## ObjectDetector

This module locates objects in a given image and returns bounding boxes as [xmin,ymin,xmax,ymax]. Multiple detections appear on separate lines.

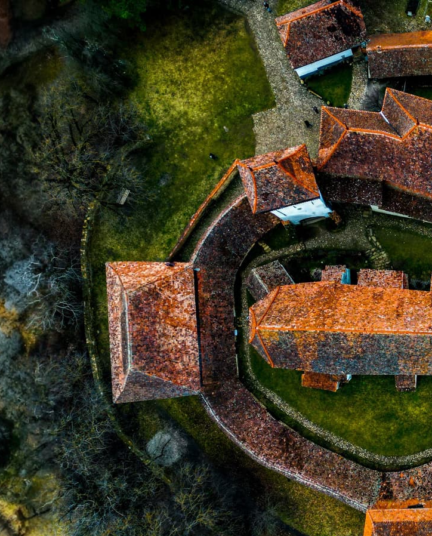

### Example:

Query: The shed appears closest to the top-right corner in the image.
[367,31,432,85]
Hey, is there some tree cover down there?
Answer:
Yes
